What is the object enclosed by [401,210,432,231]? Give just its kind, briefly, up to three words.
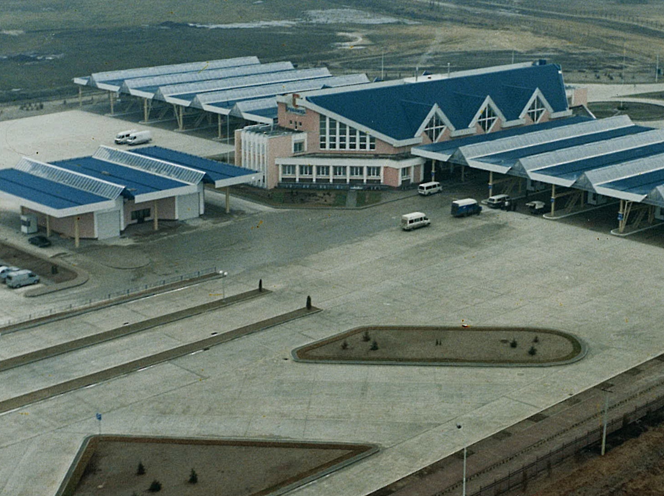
vehicle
